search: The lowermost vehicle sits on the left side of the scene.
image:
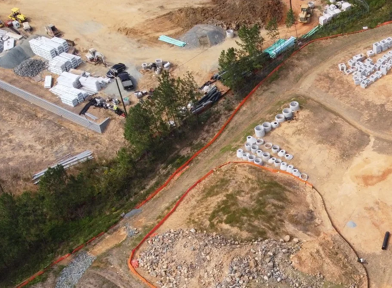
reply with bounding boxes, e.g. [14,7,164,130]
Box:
[116,69,134,86]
